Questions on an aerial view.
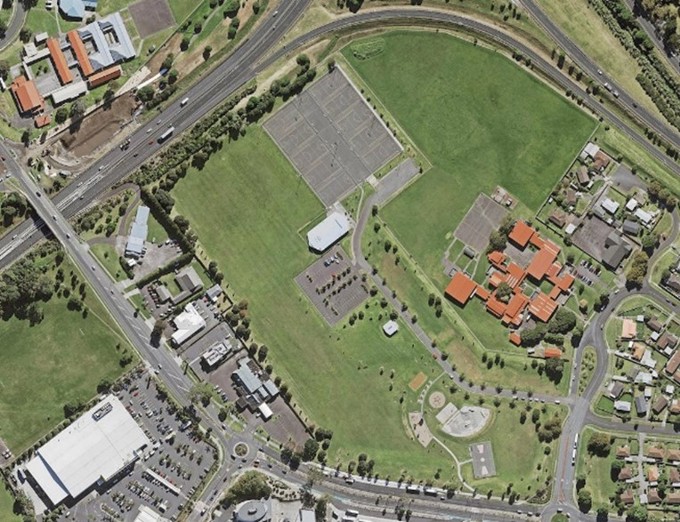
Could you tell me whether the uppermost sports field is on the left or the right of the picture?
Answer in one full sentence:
The uppermost sports field appears in the right half of the scene.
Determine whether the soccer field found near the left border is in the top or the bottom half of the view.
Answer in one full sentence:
The soccer field found near the left border is in the bottom half of the image.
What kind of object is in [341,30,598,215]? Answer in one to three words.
sports field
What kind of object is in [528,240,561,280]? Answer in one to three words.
building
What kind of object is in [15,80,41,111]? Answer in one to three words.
building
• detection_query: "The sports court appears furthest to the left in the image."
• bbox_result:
[128,0,176,39]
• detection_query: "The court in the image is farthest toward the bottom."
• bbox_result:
[469,441,495,479]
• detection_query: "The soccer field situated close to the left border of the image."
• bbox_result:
[0,312,139,455]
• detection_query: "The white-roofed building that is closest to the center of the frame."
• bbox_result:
[307,211,352,251]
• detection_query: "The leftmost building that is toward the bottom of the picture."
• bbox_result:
[25,458,68,505]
